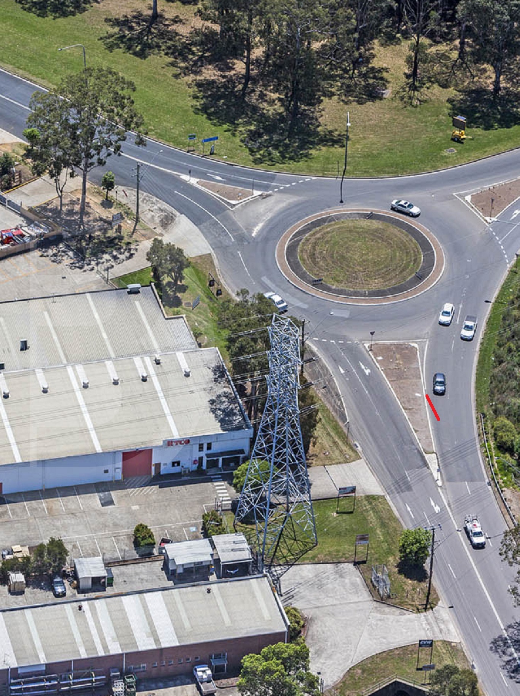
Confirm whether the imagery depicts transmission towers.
Yes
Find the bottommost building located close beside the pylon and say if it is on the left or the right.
left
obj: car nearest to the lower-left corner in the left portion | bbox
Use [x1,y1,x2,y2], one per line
[50,569,69,596]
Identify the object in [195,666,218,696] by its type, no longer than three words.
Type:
truck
